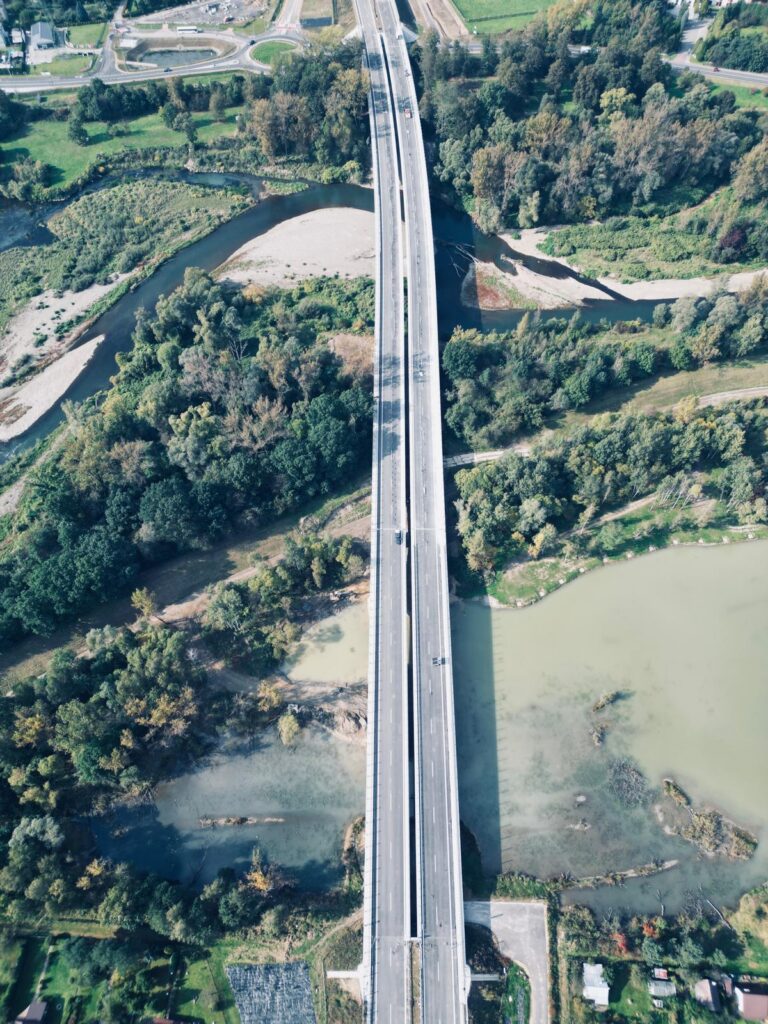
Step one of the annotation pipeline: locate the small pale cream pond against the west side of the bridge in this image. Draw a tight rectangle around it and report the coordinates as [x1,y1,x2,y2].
[284,598,369,685]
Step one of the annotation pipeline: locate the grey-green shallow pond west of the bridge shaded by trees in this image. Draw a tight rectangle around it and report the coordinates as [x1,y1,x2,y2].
[94,726,367,889]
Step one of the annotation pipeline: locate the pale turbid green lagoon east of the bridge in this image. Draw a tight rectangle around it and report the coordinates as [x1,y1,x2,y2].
[406,535,768,921]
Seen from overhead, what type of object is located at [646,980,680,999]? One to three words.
greenhouse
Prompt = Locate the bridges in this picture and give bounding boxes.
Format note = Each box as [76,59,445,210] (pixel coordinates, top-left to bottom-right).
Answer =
[355,0,473,1024]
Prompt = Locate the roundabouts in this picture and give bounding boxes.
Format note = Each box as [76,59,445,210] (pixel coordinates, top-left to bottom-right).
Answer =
[234,34,310,76]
